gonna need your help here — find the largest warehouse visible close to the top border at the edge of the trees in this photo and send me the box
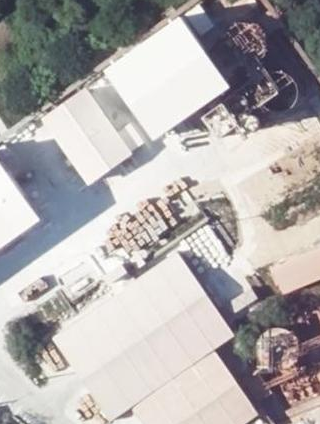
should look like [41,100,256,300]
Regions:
[104,18,236,142]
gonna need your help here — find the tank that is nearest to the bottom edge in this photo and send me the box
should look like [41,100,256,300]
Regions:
[256,326,301,370]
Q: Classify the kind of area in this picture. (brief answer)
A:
industrial area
